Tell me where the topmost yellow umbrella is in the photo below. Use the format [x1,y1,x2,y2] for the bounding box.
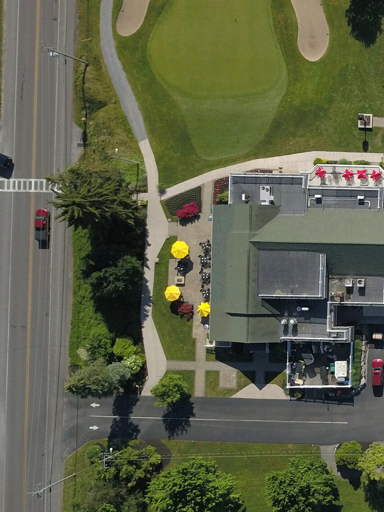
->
[172,241,190,259]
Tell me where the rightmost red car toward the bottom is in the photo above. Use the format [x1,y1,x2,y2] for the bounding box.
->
[370,359,384,386]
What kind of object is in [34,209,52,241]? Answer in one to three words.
vehicle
